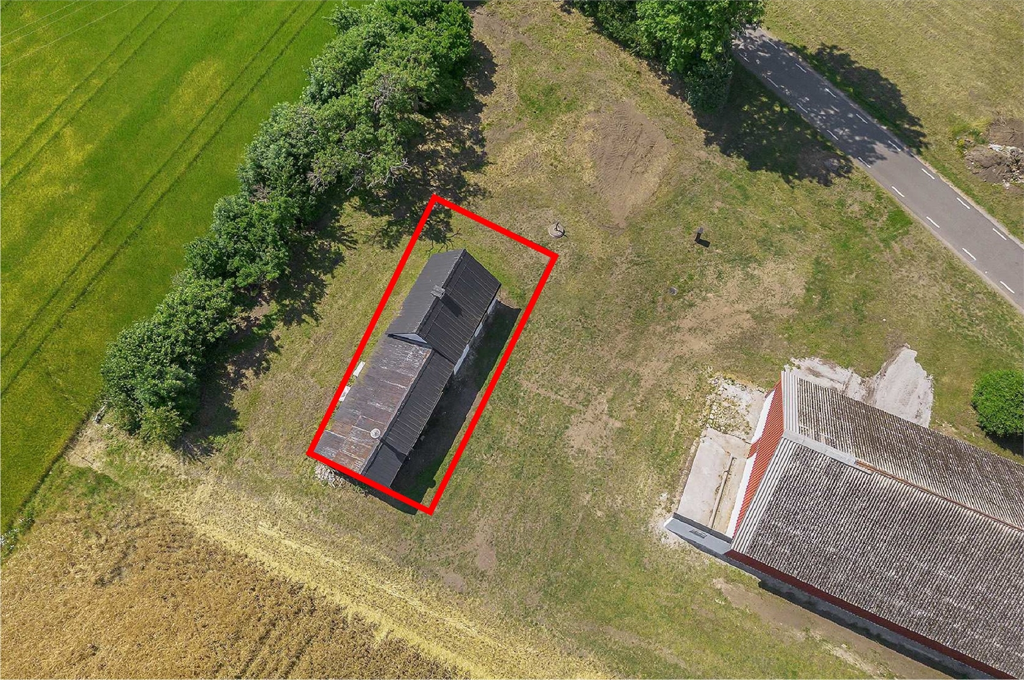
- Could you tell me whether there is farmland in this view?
Yes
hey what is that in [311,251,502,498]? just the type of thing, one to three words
house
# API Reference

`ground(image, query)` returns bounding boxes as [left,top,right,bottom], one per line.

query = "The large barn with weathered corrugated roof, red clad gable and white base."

[717,369,1024,680]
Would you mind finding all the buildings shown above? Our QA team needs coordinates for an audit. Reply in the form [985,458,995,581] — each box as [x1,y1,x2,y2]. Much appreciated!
[311,251,502,498]
[717,369,1024,680]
